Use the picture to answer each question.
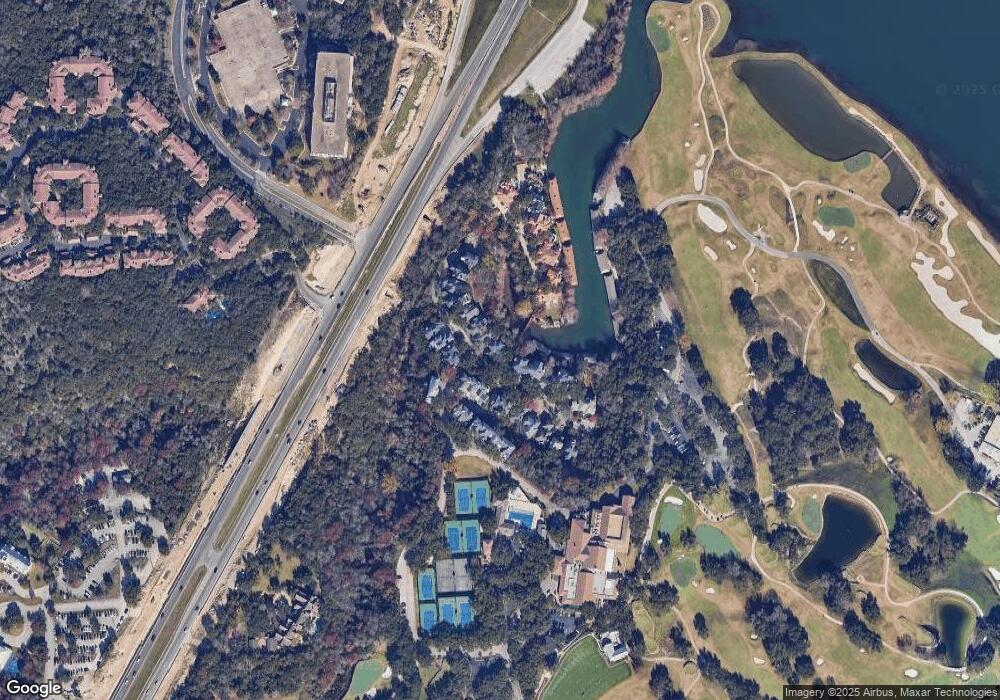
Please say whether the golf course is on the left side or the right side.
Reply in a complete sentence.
The golf course sits on the right side.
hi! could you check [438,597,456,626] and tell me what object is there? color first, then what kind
blue tennis court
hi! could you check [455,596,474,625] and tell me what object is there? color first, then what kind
blue tennis court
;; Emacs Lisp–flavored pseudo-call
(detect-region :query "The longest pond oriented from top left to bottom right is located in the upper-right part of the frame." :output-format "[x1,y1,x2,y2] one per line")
[733,60,919,218]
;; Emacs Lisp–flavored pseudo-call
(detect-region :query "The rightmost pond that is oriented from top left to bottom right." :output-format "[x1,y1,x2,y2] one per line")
[854,339,922,391]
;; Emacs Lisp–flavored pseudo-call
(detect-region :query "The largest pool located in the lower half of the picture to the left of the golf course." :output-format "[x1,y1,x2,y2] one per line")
[499,487,540,530]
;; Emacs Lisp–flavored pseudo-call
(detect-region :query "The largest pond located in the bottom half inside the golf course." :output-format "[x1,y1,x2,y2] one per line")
[794,492,882,582]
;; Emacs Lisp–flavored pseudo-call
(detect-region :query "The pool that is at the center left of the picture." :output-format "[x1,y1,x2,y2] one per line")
[204,301,228,321]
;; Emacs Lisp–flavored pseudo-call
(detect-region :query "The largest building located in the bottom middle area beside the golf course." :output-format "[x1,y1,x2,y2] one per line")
[552,497,635,604]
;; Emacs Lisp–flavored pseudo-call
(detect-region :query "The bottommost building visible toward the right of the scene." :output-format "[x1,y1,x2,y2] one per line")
[600,631,629,659]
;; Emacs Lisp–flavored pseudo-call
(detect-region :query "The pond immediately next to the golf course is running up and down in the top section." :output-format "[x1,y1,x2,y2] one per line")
[527,0,661,356]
